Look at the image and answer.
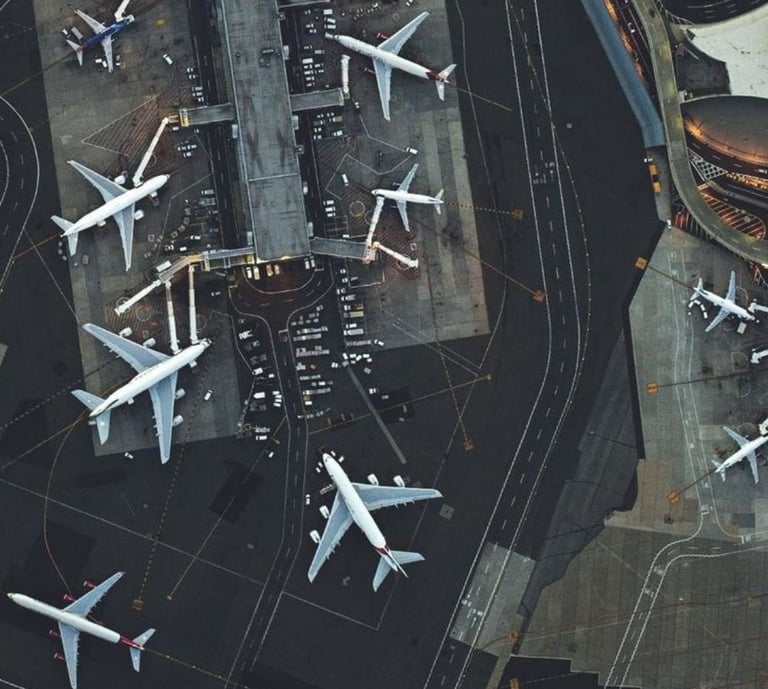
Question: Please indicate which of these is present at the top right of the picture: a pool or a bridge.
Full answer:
It is a bridge that can be seen at the top right of the picture.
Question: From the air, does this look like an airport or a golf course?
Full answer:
This looks like an airport.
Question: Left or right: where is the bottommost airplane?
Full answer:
The bottommost airplane sits on the left side.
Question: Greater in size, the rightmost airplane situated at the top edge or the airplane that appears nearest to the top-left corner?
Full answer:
The rightmost airplane situated at the top edge is larger than the airplane that appears nearest to the top-left corner.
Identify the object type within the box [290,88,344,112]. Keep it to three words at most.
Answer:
bridge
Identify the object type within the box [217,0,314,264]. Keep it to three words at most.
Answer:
building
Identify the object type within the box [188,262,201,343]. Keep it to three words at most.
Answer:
jet bridge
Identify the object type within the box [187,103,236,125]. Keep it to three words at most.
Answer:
bridge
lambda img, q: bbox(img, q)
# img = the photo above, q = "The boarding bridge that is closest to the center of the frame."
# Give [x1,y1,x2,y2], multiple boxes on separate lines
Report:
[372,239,420,268]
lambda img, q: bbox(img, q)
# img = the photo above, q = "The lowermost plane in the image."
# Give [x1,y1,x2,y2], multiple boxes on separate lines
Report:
[8,573,149,689]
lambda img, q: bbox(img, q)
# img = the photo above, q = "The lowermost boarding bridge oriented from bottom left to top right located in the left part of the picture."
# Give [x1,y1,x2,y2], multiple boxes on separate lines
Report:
[113,277,162,319]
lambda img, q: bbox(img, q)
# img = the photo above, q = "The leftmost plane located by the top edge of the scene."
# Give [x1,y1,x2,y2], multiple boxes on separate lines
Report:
[72,7,134,70]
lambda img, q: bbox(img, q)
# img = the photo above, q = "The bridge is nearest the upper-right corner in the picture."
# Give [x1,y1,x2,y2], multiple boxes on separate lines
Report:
[631,0,768,271]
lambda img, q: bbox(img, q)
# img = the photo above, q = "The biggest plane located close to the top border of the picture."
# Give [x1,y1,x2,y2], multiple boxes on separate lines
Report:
[337,9,455,122]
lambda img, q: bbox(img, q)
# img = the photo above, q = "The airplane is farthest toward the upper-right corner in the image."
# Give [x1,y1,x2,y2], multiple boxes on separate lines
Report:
[689,268,754,331]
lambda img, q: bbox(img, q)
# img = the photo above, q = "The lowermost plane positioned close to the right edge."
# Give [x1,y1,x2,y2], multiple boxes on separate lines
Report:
[710,425,768,483]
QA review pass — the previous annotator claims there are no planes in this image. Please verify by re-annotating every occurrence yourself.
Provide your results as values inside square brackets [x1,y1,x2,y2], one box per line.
[50,161,170,271]
[72,7,134,70]
[308,454,451,589]
[371,163,446,232]
[710,425,768,483]
[72,325,208,467]
[337,9,455,122]
[689,268,754,331]
[8,573,149,689]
